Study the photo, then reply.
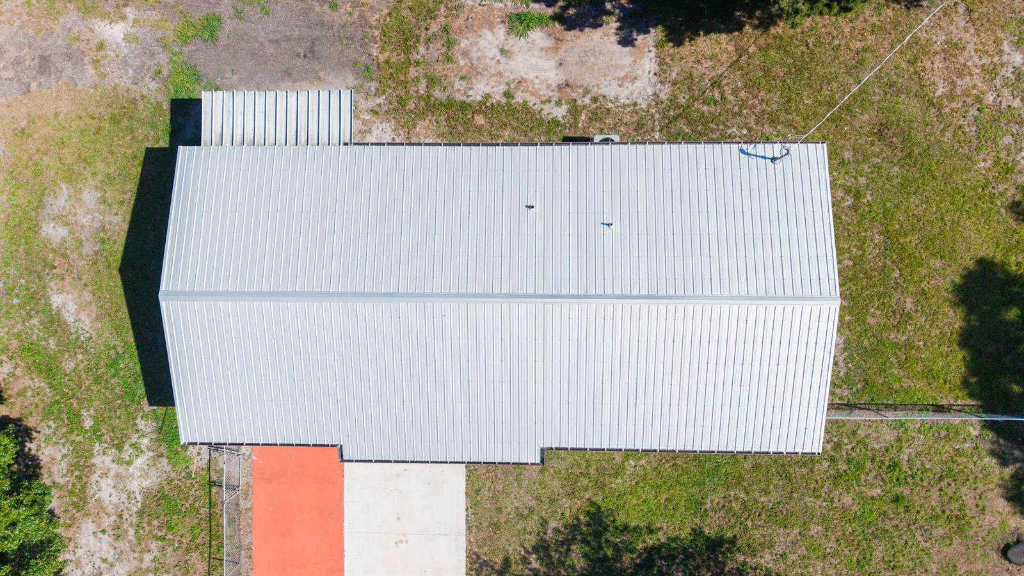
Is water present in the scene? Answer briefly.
No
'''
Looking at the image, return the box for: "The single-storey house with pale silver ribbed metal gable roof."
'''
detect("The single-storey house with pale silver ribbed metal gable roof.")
[158,133,842,466]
